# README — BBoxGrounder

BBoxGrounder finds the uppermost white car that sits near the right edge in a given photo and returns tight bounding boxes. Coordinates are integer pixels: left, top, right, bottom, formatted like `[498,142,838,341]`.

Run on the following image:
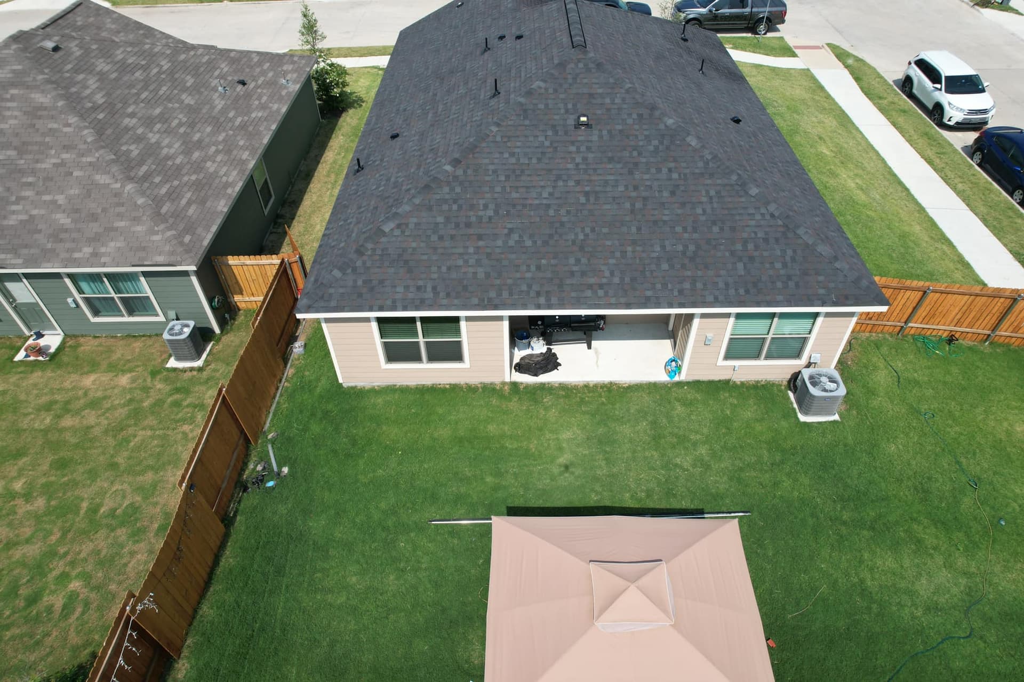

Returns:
[901,50,999,131]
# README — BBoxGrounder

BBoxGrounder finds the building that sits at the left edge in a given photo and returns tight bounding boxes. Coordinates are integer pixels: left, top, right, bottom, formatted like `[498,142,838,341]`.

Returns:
[0,0,318,335]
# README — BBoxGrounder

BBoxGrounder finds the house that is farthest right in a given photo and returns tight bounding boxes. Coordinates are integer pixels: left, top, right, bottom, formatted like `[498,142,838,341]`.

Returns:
[294,0,892,385]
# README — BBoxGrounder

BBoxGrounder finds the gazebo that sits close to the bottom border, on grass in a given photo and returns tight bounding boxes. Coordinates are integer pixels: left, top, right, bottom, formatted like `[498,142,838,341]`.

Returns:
[482,516,779,682]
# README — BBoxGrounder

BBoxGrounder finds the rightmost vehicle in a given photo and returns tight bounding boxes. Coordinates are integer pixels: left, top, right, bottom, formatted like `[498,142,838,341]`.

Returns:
[972,125,1024,204]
